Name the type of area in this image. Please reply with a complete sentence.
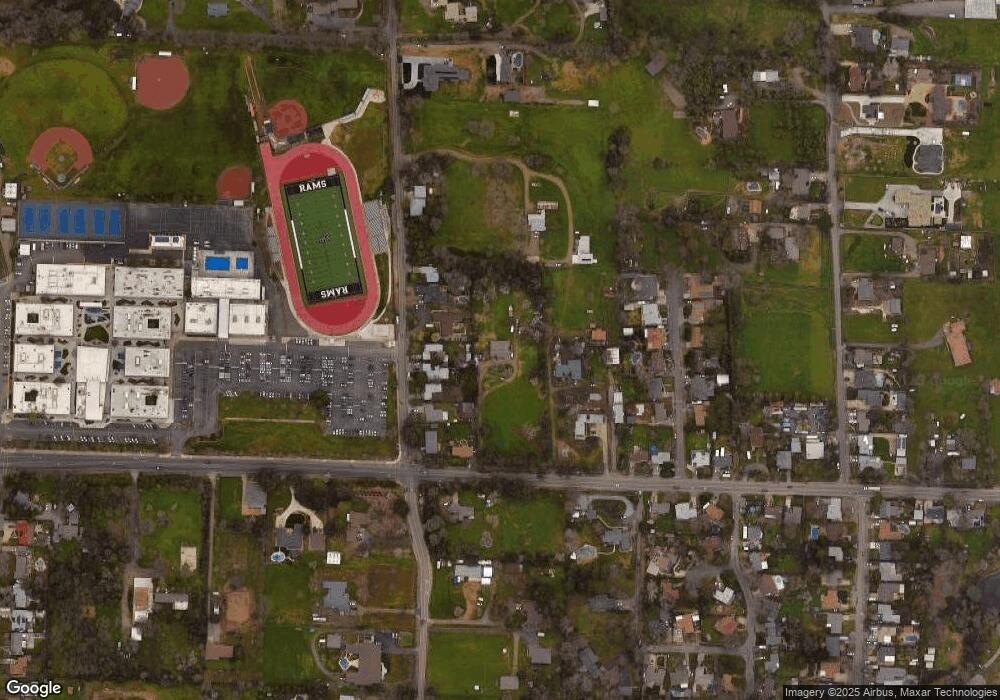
What you see here is a residential area.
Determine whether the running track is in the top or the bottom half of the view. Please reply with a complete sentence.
You can find the running track in the top half.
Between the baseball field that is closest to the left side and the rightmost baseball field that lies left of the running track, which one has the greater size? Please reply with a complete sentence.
Of the two, the baseball field that is closest to the left side is bigger, while the rightmost baseball field that lies left of the running track is smaller.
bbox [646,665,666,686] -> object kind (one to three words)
house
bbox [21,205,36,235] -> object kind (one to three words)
tennis court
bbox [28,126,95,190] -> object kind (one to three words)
baseball field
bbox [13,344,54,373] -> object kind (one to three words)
building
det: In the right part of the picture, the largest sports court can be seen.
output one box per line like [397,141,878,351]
[913,144,944,174]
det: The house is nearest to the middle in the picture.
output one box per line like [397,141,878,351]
[490,341,511,358]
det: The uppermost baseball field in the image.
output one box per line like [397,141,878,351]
[135,55,189,110]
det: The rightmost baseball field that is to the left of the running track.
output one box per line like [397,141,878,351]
[216,164,253,205]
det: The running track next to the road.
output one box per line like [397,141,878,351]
[262,143,380,336]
